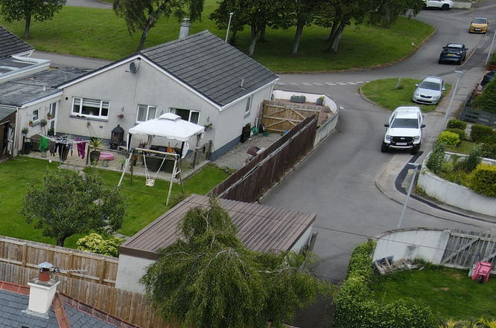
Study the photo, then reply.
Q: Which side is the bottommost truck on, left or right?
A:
right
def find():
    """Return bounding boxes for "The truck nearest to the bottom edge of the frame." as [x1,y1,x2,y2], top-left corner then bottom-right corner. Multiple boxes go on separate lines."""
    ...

[384,107,433,149]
